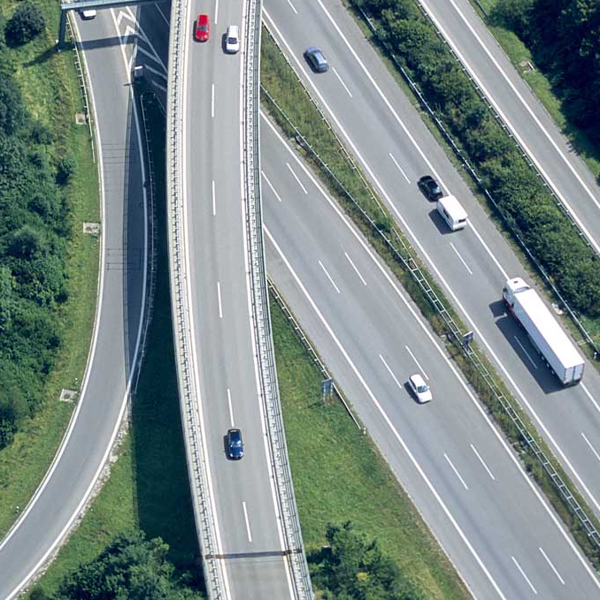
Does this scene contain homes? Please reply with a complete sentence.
No, there's no home here.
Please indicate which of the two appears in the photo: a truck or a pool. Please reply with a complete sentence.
The image shows a truck.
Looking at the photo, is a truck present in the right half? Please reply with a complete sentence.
Yes, a truck can be seen in the right half.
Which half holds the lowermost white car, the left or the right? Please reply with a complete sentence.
The lowermost white car sits on the right side.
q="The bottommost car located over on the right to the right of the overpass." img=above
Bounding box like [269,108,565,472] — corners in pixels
[407,375,431,402]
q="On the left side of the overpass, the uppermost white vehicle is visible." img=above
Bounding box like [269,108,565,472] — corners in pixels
[84,6,98,18]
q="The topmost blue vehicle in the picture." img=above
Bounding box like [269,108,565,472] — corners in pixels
[306,49,328,73]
